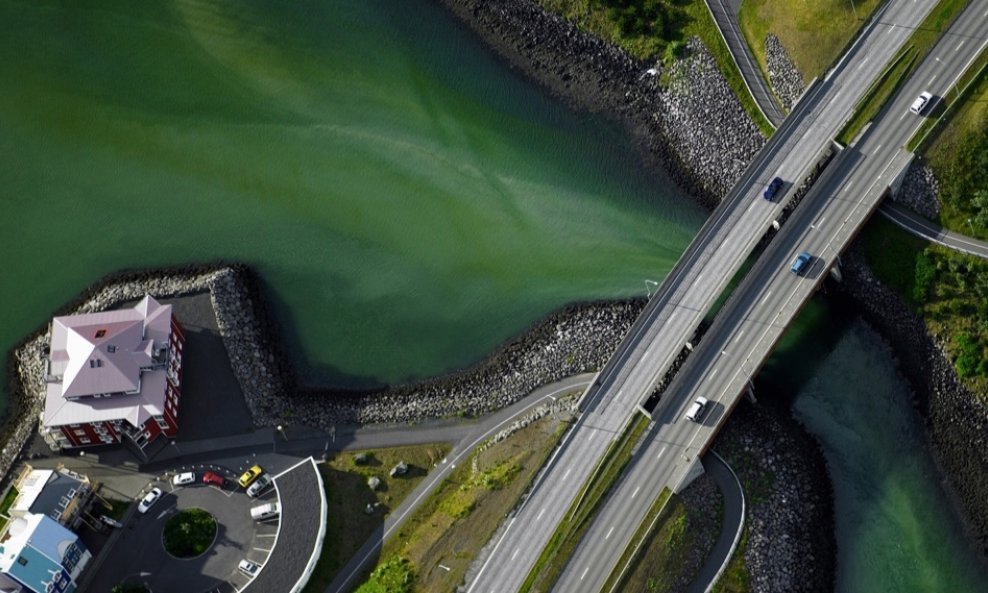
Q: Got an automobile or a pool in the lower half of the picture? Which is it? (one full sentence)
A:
It is an automobile that can be seen in the lower half of the picture.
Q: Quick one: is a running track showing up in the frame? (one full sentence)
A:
No, no running track is visible in the view.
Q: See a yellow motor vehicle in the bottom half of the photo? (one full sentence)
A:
Yes, in the bottom half of the photo there is a yellow motor vehicle.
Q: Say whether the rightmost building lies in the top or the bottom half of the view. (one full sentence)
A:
Seen from above, the rightmost building lies in the bottom half of the view.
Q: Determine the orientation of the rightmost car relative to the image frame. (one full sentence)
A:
In this picture, the rightmost car lies on a diagonal.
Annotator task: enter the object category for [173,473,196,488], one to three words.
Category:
car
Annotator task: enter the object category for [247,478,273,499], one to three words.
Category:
car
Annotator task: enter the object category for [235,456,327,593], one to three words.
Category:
building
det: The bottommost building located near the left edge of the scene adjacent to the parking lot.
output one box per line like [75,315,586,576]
[0,511,97,593]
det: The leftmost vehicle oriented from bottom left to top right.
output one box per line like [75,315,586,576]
[137,490,163,514]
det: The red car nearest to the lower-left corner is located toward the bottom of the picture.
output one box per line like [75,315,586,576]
[202,473,227,488]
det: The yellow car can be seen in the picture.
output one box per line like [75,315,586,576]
[236,466,263,488]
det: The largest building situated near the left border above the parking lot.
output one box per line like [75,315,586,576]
[38,298,178,471]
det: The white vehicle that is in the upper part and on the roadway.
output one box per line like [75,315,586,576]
[911,92,932,117]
